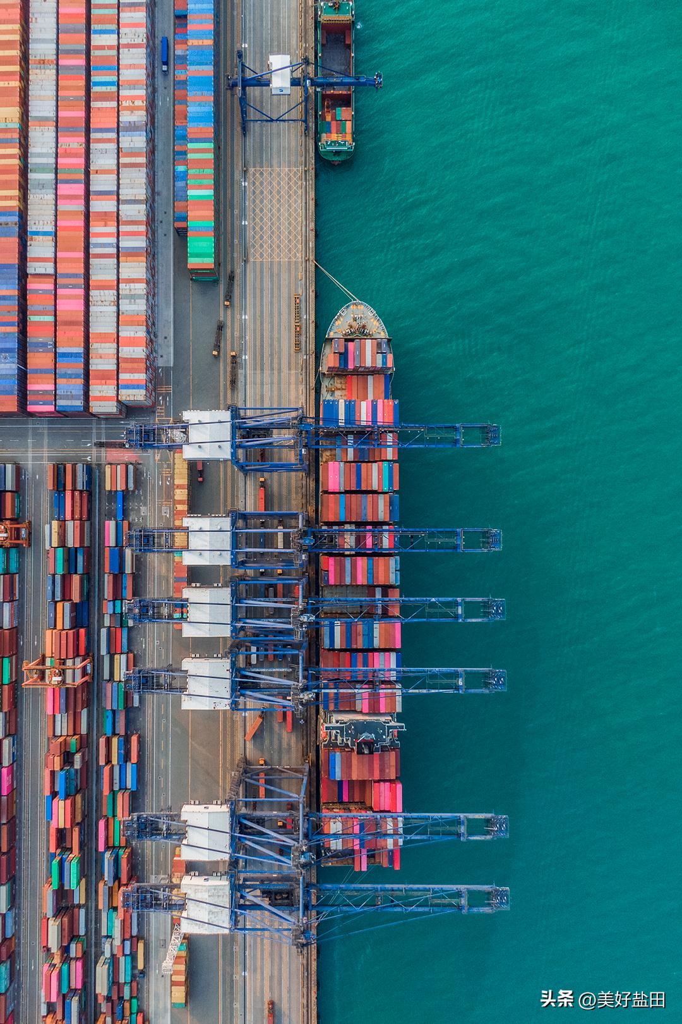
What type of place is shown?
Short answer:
port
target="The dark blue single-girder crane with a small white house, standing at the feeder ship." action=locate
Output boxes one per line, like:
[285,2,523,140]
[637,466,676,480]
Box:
[224,45,383,143]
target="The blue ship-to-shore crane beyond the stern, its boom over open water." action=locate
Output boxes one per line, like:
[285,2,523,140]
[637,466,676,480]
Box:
[123,819,510,948]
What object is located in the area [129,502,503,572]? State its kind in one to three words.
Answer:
container crane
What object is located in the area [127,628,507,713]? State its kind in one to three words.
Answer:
container crane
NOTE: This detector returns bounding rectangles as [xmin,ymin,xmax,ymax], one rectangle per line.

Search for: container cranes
[129,502,503,572]
[127,628,507,713]
[0,519,29,548]
[20,652,94,688]
[127,398,502,485]
[224,45,383,143]
[129,570,507,642]
[123,819,510,948]
[126,750,509,870]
